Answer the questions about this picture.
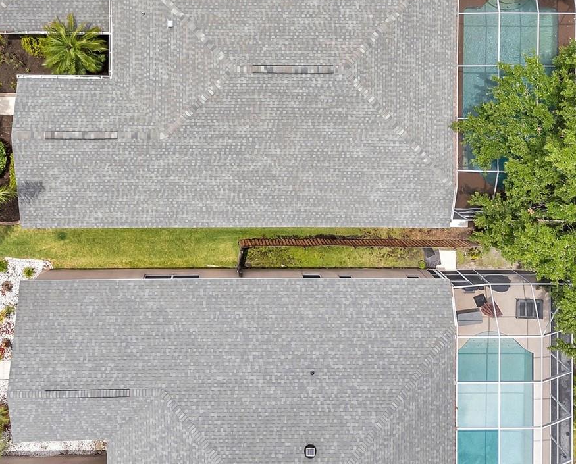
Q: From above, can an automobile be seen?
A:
No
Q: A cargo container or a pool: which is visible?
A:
pool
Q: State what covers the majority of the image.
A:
buildings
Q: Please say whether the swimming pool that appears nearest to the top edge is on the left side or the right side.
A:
right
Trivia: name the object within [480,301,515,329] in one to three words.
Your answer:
umbrella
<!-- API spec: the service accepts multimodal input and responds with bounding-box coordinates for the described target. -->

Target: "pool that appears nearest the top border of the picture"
[465,0,559,198]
